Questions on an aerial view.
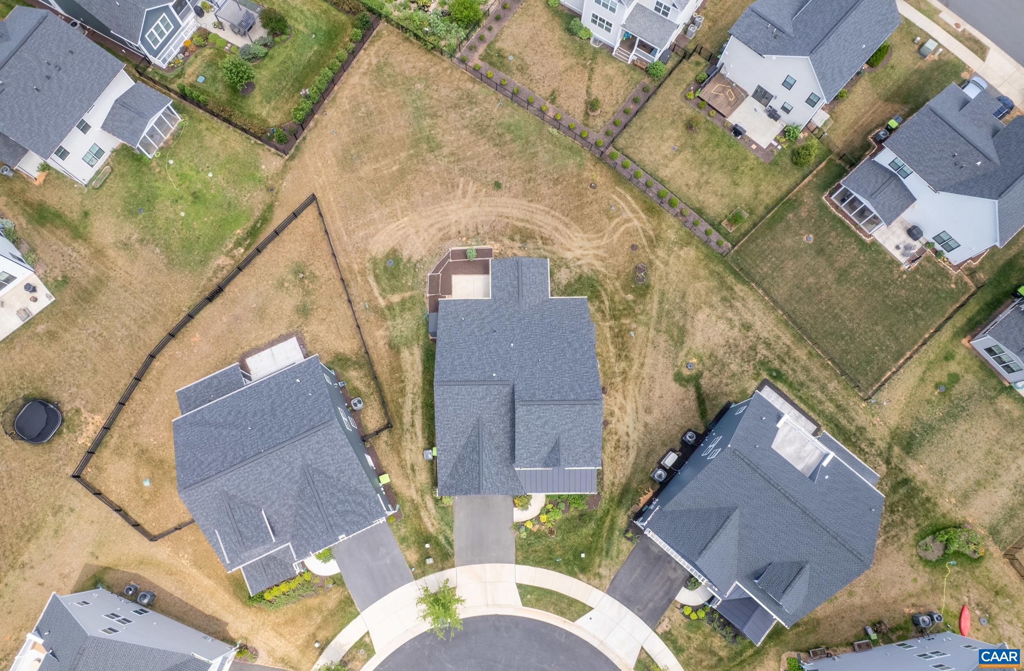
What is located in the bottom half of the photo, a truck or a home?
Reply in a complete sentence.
Visible in the bottom half of the photo is a home.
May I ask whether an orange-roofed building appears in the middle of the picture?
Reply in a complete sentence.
No, looking in the middle of the picture, there is no orange-roofed building.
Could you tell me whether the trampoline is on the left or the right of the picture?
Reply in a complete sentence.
The trampoline appears in the left half of the scene.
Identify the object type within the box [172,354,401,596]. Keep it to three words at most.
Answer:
house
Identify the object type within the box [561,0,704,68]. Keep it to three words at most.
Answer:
house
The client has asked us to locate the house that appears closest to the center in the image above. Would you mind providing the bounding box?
[428,255,604,498]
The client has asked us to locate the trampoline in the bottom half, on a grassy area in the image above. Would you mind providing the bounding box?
[0,393,76,447]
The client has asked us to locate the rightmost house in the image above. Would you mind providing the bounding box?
[969,295,1024,385]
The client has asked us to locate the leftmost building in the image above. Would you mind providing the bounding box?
[0,224,36,295]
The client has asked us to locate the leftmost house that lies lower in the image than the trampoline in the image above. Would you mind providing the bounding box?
[14,576,244,671]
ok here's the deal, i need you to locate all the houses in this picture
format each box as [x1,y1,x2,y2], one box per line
[428,255,604,498]
[716,0,906,135]
[633,389,885,648]
[172,354,401,596]
[561,0,704,68]
[0,224,36,295]
[14,576,244,671]
[969,295,1024,385]
[0,1,183,186]
[831,80,1024,267]
[798,631,1024,671]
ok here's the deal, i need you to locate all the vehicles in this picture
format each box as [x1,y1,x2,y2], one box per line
[961,70,989,97]
[993,88,1019,124]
